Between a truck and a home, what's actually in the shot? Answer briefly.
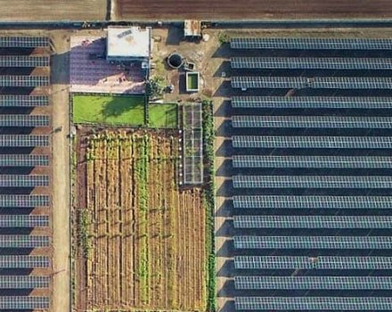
home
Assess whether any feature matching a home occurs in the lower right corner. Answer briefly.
No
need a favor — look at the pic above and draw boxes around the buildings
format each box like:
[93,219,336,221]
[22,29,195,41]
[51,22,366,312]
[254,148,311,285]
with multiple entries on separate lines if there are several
[185,21,203,38]
[106,27,151,66]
